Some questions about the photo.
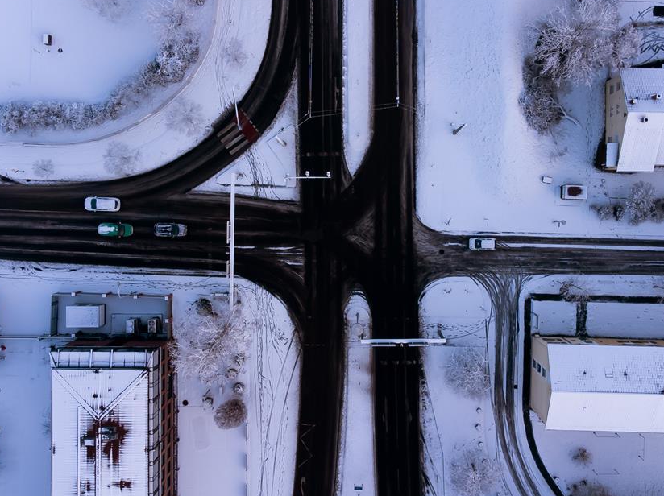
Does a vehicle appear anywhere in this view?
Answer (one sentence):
Yes, there's a vehicle here.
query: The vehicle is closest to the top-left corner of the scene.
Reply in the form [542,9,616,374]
[84,196,121,213]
